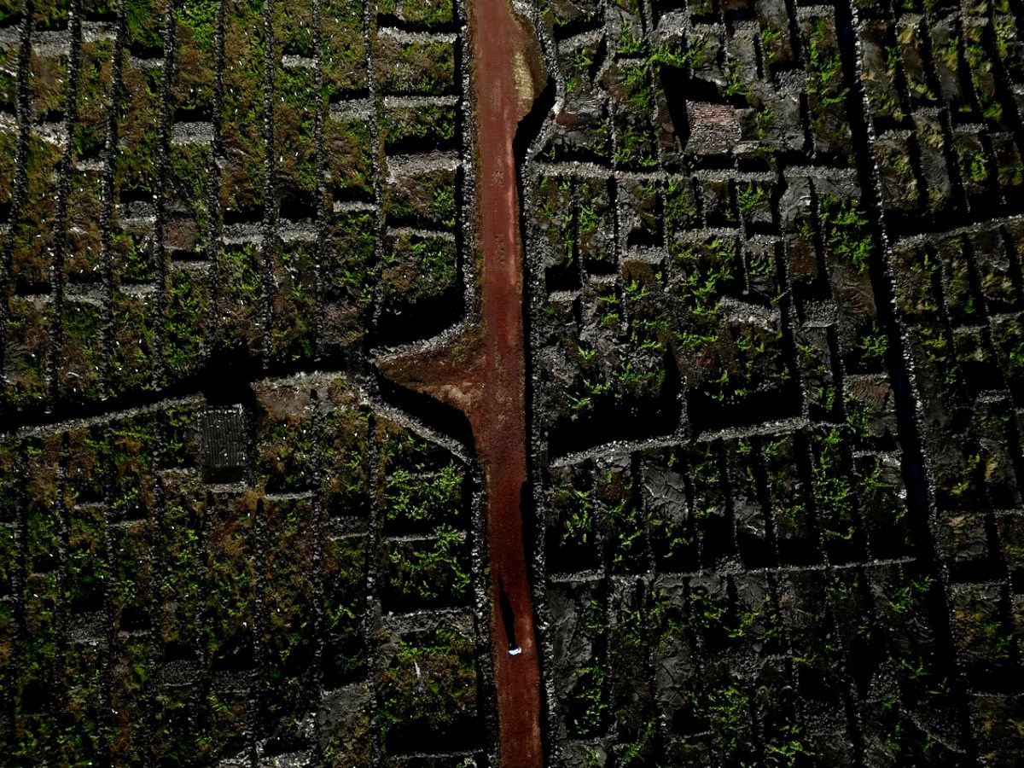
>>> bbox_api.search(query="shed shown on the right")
[670,98,759,158]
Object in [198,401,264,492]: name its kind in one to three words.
shed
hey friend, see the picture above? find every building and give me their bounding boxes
[670,98,759,158]
[198,401,264,492]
